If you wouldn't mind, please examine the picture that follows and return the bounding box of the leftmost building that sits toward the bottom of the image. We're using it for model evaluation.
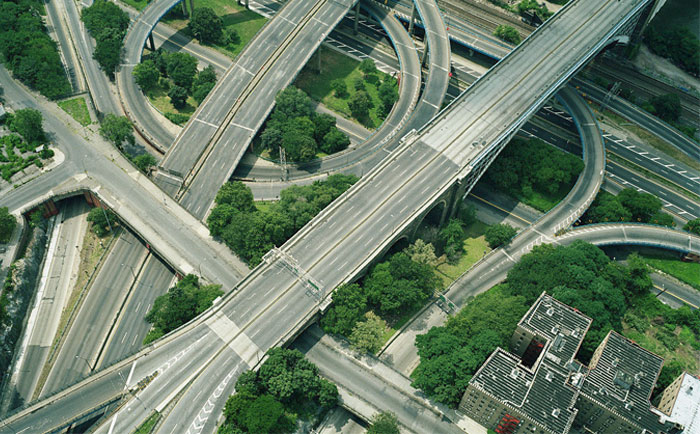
[460,290,594,434]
